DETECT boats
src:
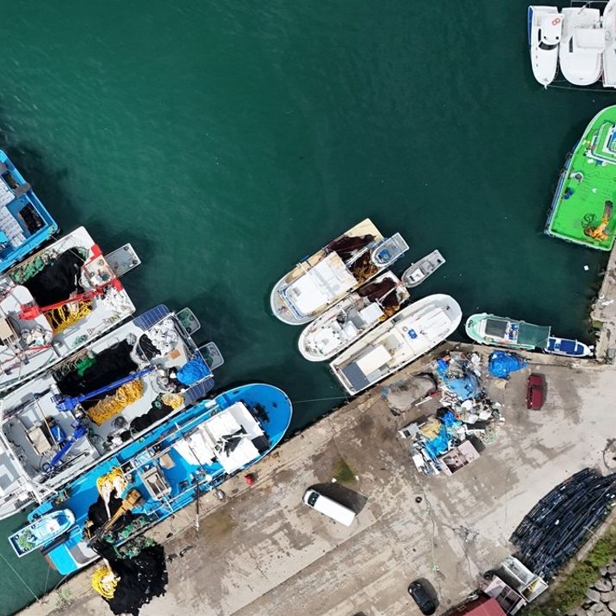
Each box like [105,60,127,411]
[29,390,293,575]
[0,305,222,519]
[299,273,409,362]
[402,250,445,285]
[0,230,134,393]
[371,235,408,265]
[271,219,394,319]
[597,1,616,88]
[11,511,77,555]
[524,6,563,91]
[0,153,56,268]
[542,337,591,356]
[538,104,616,252]
[330,300,462,395]
[104,245,140,275]
[556,1,611,87]
[462,314,550,349]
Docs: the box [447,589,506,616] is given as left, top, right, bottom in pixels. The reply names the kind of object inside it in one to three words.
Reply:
shed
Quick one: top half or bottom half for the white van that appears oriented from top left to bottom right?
bottom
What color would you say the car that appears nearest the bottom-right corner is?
black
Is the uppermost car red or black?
red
